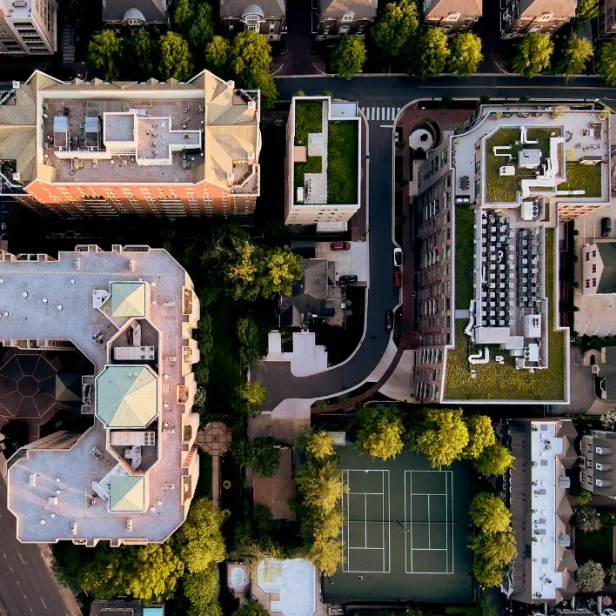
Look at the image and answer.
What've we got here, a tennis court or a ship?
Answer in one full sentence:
Of the two, only a tennis court appears.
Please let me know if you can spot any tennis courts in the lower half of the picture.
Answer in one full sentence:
Yes, the scene does show a tennis court in the lower half of the picture.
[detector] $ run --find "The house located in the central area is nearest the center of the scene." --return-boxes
[279,259,338,328]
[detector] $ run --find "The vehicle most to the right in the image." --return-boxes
[600,216,612,237]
